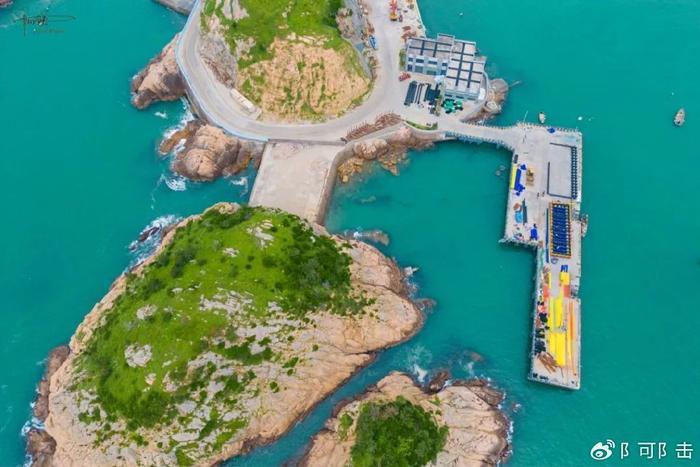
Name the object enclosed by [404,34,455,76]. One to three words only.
building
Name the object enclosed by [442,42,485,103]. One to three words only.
building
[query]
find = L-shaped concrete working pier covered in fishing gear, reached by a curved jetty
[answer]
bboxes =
[444,120,582,389]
